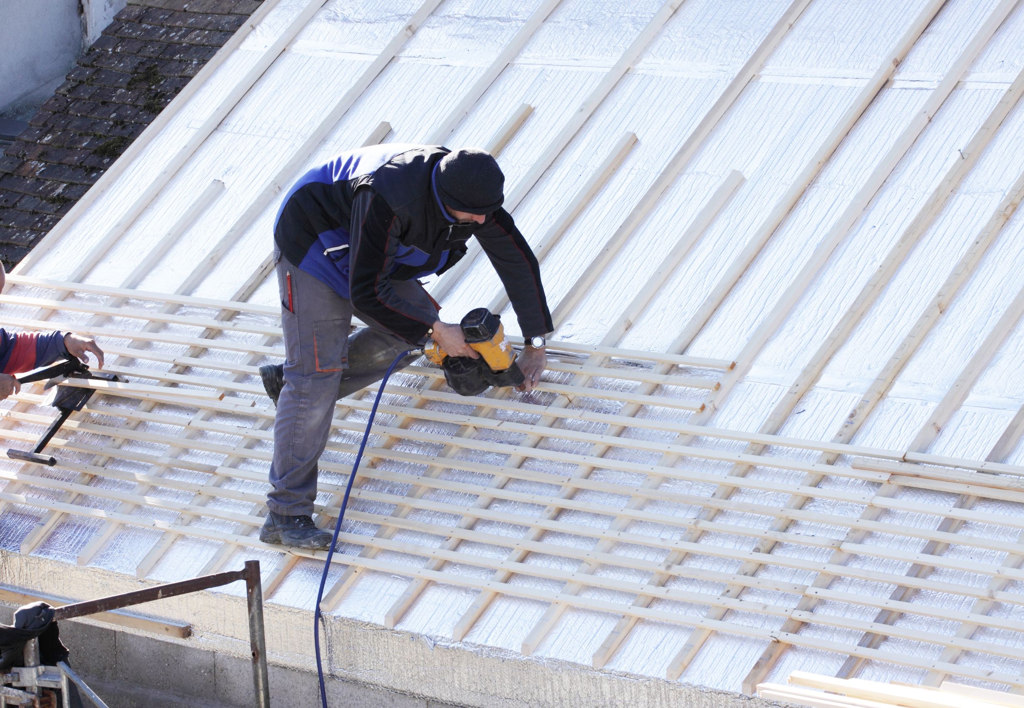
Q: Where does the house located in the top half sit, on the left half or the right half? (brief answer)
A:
left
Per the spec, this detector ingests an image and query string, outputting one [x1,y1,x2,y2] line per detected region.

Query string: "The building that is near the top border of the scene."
[0,0,142,149]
